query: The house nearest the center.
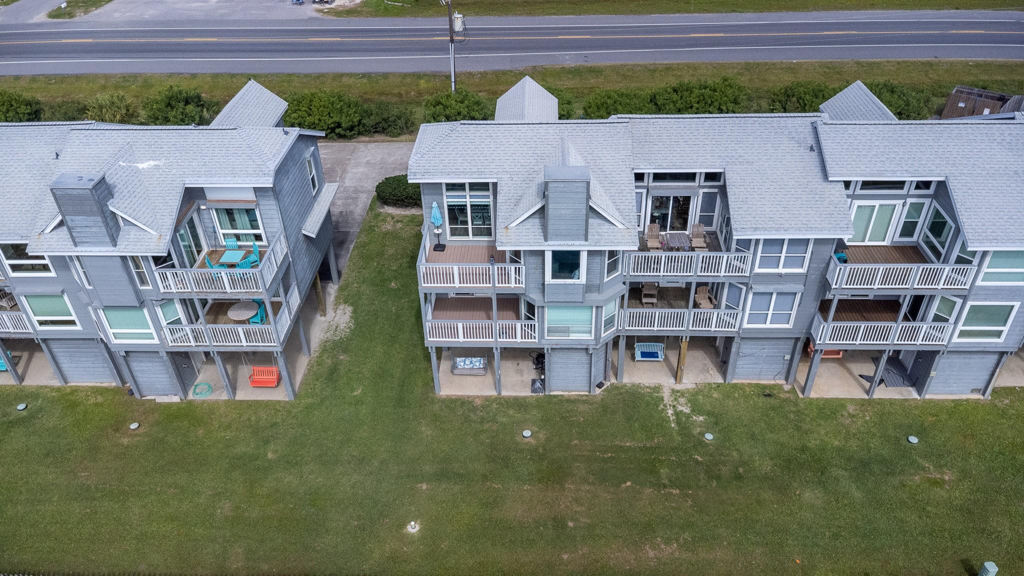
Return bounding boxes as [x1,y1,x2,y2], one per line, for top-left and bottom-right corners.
[407,75,637,394]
